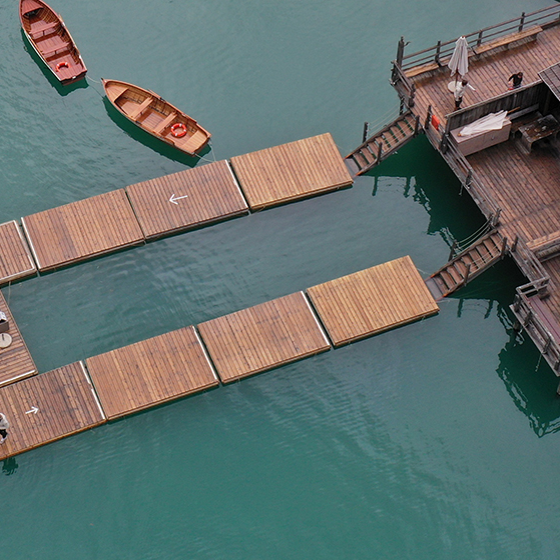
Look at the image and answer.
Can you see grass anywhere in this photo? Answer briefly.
No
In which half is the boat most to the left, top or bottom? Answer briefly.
top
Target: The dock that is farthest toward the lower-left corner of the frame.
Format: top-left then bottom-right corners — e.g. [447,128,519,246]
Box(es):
[0,362,108,460]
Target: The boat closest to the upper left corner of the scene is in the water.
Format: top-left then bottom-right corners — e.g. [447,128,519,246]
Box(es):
[20,0,88,86]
